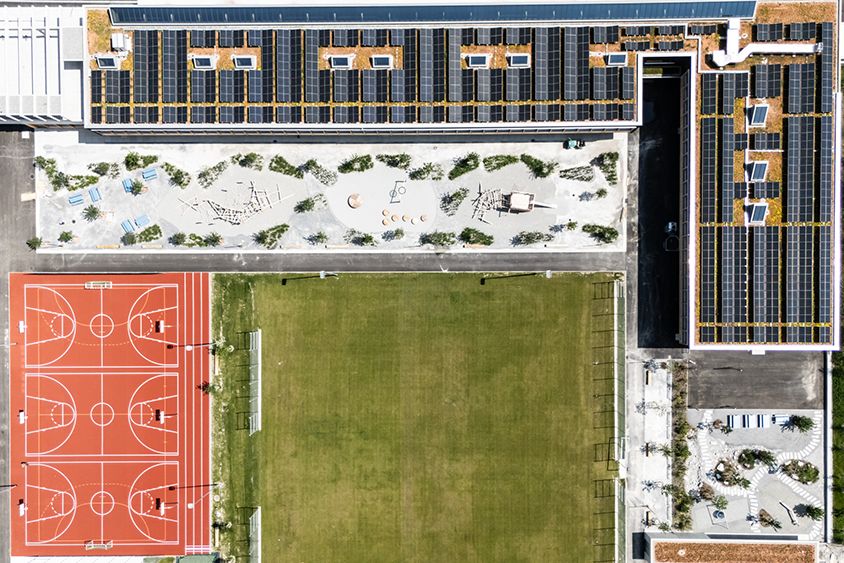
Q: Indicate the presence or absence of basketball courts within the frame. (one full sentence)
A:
Yes, a basketball court appears in the view.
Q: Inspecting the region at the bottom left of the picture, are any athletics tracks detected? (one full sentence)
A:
Yes, there is an athletics track at the bottom left of the picture.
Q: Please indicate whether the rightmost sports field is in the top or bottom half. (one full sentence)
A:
The rightmost sports field is in the bottom half of the image.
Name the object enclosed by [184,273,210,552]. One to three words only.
running track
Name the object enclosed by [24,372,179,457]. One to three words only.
basketball court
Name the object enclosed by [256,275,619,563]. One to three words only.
sports field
